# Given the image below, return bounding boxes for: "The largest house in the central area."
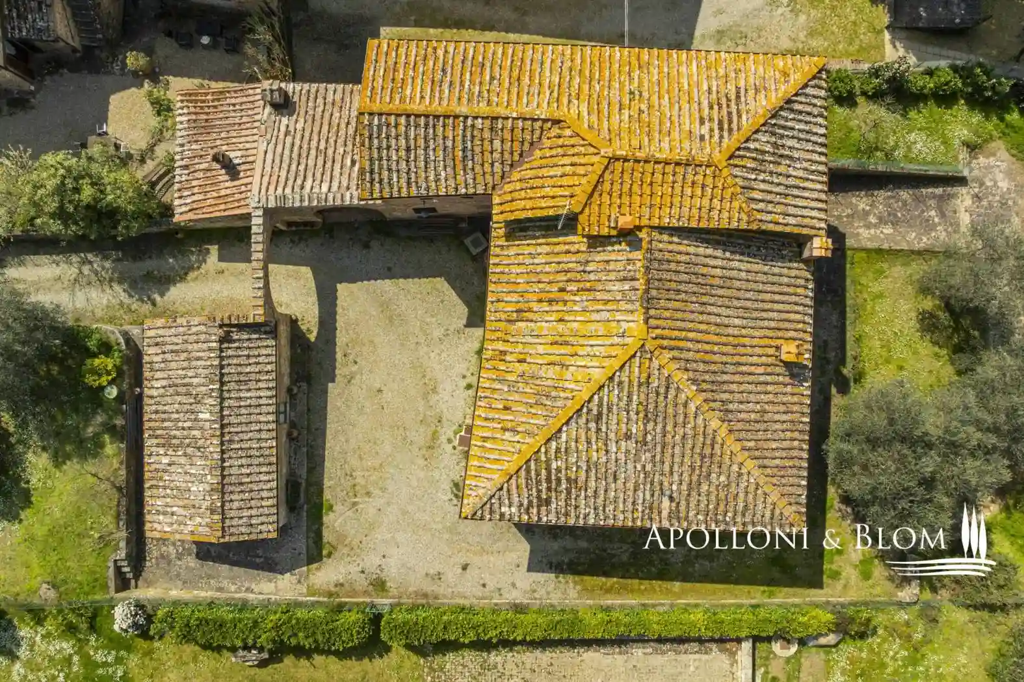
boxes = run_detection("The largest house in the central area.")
[356,36,831,531]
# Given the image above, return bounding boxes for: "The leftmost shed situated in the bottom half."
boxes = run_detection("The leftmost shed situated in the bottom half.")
[141,313,291,546]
